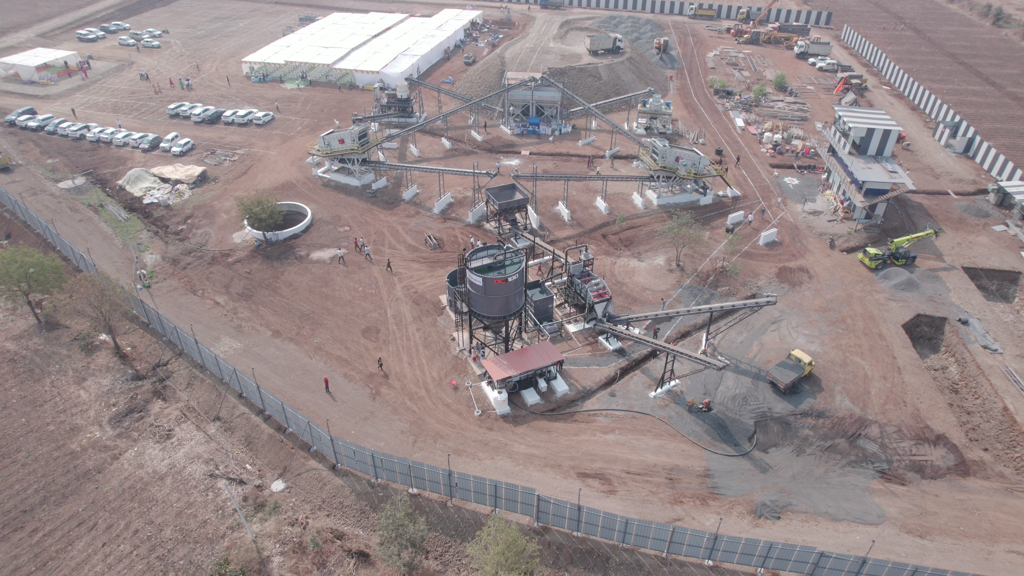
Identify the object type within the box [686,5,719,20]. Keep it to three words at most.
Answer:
vehicle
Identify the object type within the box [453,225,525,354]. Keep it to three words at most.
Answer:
storage tank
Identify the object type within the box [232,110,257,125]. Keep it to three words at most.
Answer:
car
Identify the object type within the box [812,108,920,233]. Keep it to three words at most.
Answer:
building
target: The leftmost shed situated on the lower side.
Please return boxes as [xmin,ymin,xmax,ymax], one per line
[483,339,565,399]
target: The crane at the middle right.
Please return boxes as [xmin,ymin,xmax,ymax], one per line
[862,220,952,267]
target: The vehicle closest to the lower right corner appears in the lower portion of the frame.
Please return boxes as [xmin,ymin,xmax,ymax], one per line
[769,344,825,395]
